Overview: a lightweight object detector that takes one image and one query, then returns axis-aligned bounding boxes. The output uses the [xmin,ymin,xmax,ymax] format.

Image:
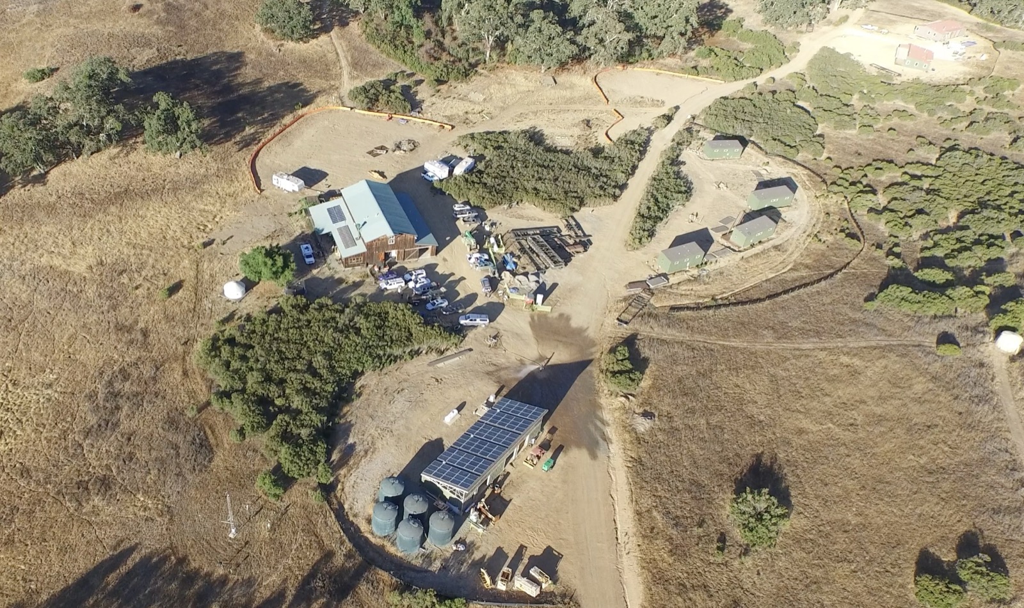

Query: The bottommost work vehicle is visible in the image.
[472,494,498,524]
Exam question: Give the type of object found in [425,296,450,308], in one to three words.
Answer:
vehicle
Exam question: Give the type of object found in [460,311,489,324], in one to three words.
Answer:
vehicle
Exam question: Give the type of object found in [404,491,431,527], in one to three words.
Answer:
water tank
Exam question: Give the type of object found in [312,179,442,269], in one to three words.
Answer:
barn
